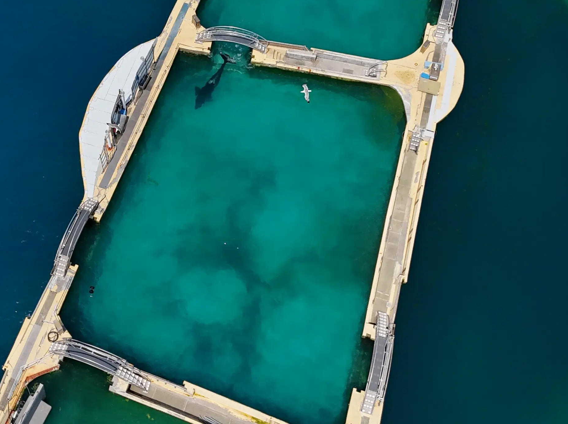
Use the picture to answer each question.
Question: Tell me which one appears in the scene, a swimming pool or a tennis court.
swimming pool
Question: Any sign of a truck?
No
